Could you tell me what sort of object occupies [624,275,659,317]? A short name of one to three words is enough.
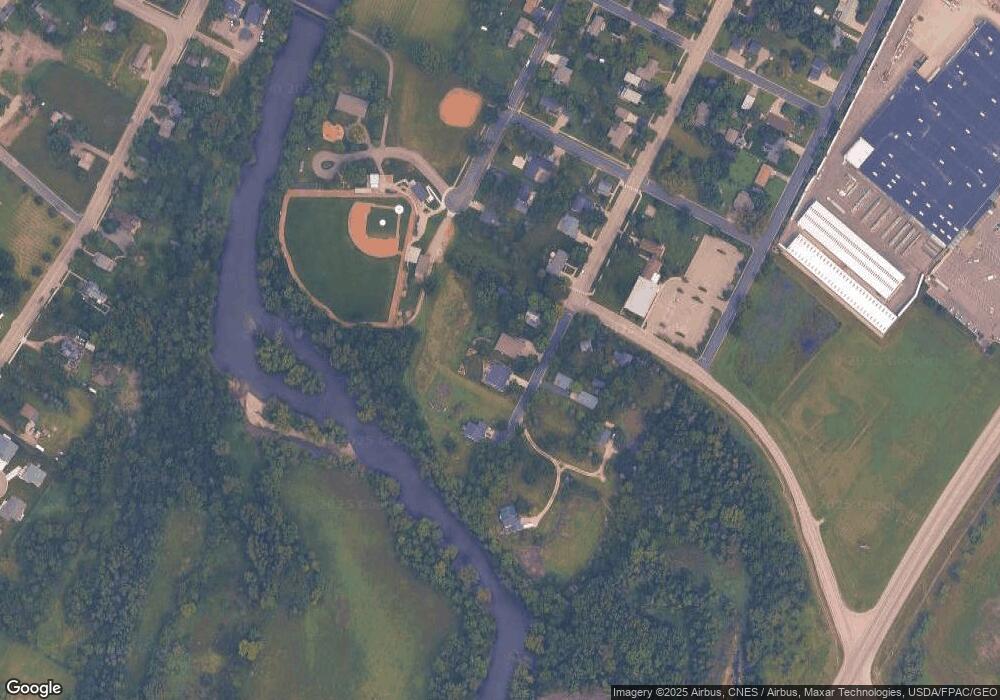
building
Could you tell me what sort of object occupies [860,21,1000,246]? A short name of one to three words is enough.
warehouse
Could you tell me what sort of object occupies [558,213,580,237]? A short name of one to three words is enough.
house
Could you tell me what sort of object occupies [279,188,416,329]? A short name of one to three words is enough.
baseball field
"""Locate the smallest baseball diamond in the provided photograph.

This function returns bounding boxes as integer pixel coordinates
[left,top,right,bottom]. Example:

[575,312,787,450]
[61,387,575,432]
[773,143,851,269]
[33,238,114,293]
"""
[438,87,482,128]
